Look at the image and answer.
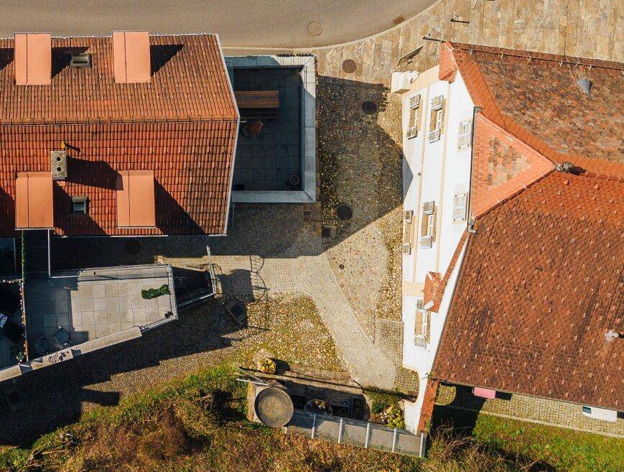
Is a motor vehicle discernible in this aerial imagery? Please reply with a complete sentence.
No, no motor vehicle can be seen from above.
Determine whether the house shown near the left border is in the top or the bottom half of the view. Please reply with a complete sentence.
The top half of the photo is where the house shown near the left border is.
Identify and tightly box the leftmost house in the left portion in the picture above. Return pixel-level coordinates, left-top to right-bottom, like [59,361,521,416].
[0,30,241,239]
